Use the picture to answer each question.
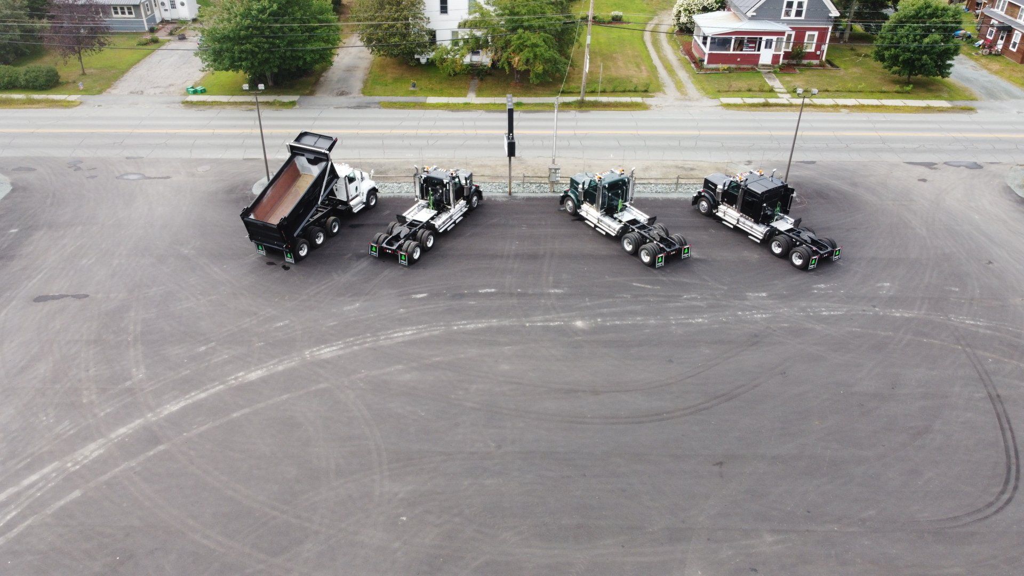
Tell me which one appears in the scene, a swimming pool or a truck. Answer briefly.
truck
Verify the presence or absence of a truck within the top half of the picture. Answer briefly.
Yes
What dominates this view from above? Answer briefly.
paved ground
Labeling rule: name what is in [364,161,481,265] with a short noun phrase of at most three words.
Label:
truck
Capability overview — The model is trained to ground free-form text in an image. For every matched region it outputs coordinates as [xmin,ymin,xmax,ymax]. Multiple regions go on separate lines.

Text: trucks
[561,160,696,267]
[694,156,848,271]
[364,161,481,265]
[236,128,380,262]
